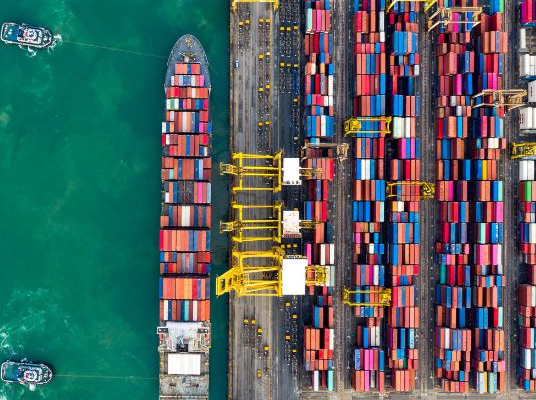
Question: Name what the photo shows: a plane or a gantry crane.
gantry crane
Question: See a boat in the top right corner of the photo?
No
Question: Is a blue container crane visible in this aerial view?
No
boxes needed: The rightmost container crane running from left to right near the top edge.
[428,9,484,37]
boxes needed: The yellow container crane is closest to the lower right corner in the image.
[343,281,394,307]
